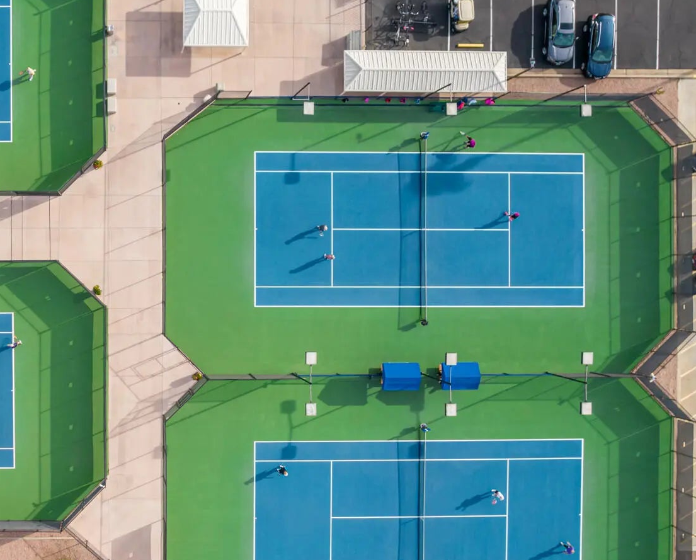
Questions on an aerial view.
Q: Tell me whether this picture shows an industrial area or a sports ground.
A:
sports ground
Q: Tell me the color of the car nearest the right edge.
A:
blue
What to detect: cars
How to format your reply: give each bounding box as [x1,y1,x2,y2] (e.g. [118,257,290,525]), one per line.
[581,11,618,79]
[542,0,580,64]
